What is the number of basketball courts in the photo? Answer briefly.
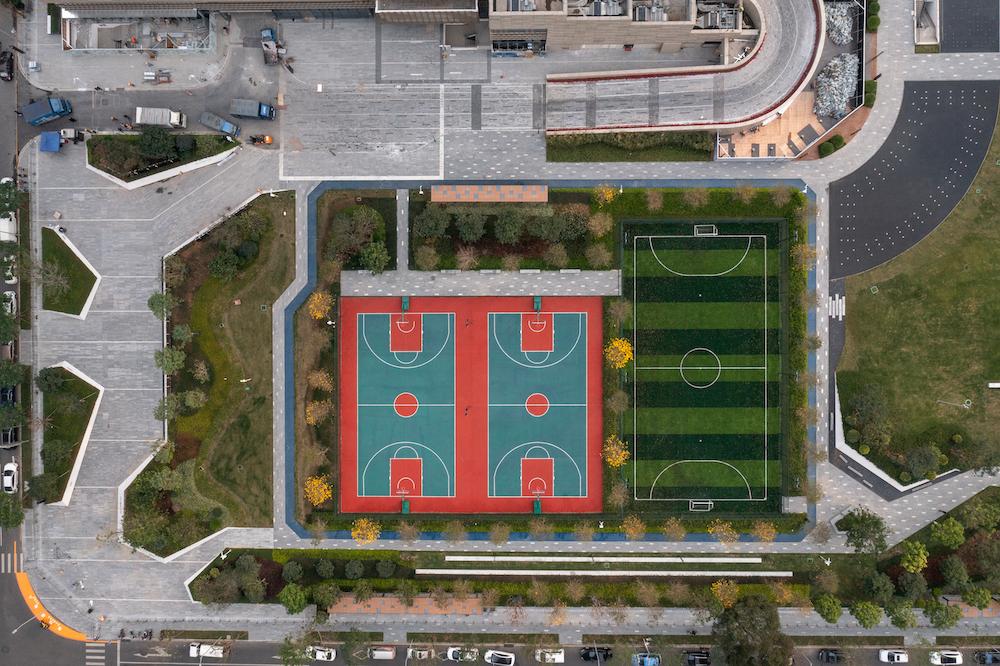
two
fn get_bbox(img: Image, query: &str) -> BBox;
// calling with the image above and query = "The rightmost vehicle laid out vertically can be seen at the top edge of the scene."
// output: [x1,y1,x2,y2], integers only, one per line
[258,26,281,66]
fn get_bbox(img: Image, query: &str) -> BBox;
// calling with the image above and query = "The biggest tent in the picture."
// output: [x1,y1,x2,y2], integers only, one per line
[39,134,67,157]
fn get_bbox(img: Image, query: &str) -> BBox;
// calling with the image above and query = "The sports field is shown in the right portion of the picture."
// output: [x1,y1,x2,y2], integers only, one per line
[626,224,780,513]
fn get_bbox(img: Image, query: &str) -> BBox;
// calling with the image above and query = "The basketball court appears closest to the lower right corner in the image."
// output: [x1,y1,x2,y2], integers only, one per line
[472,298,604,513]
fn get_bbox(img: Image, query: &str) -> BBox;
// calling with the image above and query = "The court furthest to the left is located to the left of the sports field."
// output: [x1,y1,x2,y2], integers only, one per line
[341,298,472,513]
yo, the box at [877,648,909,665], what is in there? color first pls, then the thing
white car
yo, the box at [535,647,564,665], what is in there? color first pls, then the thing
white car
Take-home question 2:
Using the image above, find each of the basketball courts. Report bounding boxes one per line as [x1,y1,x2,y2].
[341,298,472,513]
[472,298,604,513]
